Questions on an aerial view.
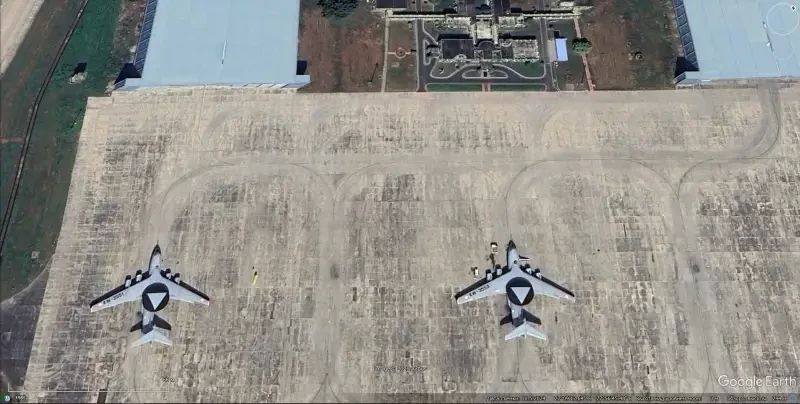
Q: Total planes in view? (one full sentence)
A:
The picture shows 2 planes.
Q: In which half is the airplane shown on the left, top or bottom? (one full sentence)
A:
The airplane shown on the left sits in the bottom half of the picture.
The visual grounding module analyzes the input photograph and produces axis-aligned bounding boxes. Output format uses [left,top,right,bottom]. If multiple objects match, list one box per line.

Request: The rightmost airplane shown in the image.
[458,234,575,343]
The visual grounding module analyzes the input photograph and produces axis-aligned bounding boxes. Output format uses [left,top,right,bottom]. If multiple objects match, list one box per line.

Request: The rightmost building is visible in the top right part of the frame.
[670,0,800,88]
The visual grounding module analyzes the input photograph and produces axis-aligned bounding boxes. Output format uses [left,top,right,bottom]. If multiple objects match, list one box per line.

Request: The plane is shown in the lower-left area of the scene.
[96,241,214,349]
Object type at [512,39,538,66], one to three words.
building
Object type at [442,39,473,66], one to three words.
building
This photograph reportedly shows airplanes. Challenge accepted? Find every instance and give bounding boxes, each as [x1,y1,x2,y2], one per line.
[458,234,575,343]
[96,241,214,349]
